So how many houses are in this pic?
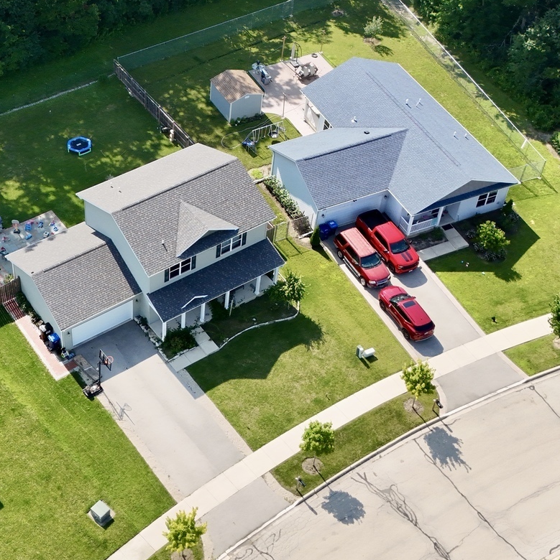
two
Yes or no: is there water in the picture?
No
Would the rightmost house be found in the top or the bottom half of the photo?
top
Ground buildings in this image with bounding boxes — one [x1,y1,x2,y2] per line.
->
[268,57,521,238]
[6,143,286,350]
[211,68,266,122]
